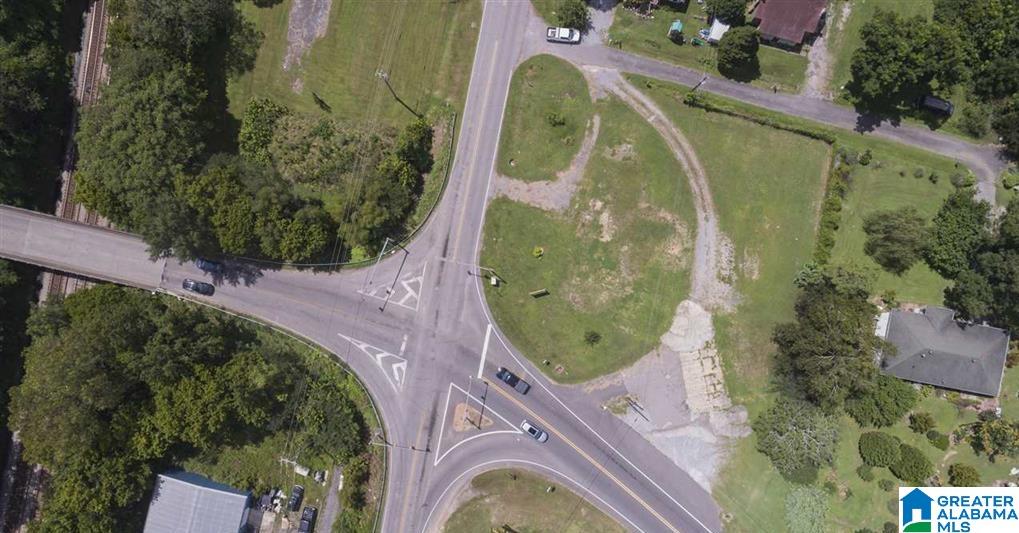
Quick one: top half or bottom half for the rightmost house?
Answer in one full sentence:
You can find the rightmost house in the bottom half.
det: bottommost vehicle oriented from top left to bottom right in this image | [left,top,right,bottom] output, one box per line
[519,418,549,442]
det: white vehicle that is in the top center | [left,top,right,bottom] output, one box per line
[545,29,582,45]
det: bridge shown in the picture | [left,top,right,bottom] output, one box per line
[0,203,165,293]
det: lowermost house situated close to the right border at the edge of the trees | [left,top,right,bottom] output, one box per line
[877,306,1010,397]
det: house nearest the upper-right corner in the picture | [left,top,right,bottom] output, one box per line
[757,0,828,57]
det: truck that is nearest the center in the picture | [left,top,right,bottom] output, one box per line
[497,366,531,395]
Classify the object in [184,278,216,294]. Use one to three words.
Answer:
car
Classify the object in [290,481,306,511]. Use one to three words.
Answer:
car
